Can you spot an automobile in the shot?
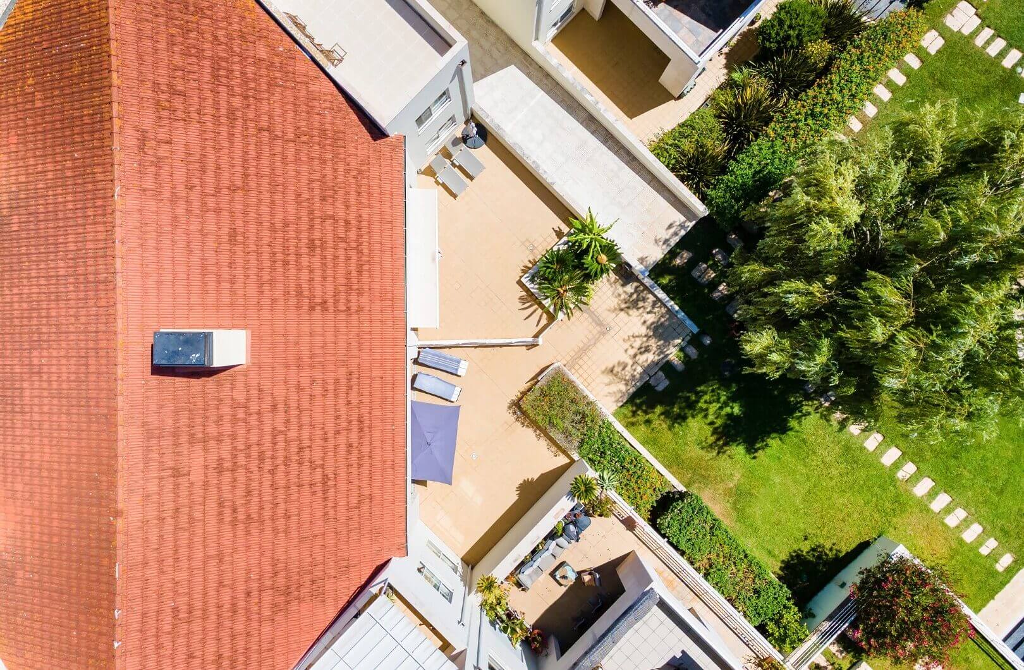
No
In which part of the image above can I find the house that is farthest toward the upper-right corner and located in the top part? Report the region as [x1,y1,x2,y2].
[612,0,771,97]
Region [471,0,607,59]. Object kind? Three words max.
house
